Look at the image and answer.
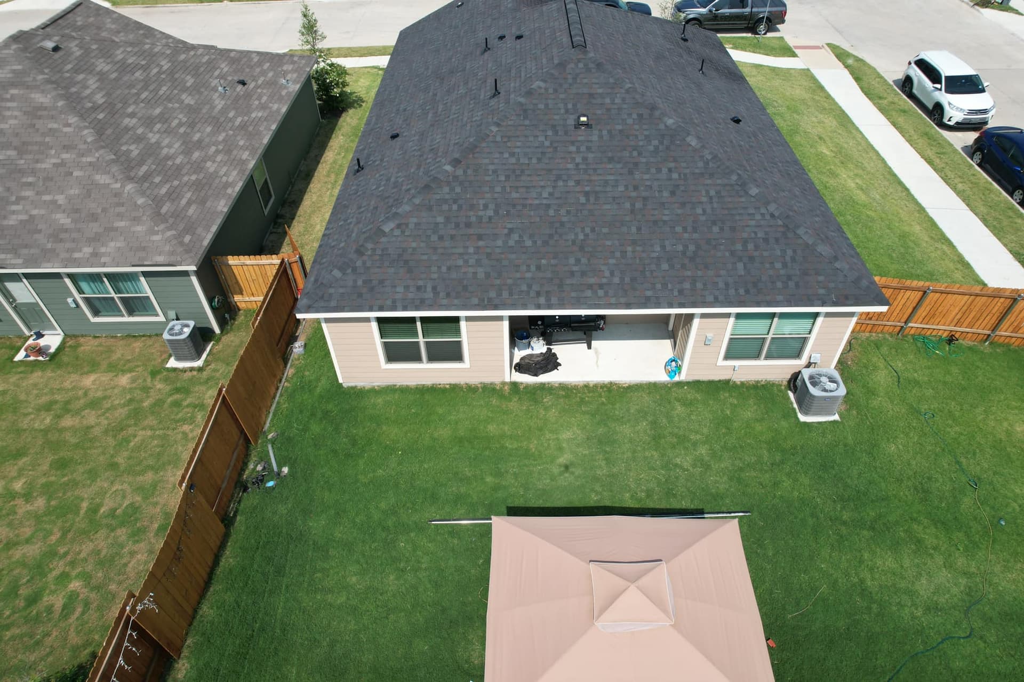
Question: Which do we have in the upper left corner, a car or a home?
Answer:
home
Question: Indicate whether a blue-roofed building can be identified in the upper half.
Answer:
No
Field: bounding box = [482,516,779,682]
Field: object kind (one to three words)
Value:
gazebo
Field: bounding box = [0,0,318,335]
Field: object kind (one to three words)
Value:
house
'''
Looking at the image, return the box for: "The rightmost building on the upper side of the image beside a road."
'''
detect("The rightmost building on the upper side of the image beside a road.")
[294,0,892,385]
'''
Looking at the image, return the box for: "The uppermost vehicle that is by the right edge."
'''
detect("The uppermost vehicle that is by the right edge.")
[901,50,999,131]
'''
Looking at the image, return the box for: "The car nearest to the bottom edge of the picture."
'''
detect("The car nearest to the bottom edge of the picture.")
[972,125,1024,204]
